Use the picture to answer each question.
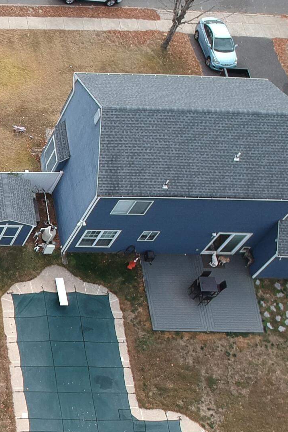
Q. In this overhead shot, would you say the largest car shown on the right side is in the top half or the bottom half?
top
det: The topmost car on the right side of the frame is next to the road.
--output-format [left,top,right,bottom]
[196,7,252,67]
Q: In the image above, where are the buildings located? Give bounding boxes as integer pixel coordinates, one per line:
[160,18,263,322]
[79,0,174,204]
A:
[0,171,36,248]
[38,69,288,284]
